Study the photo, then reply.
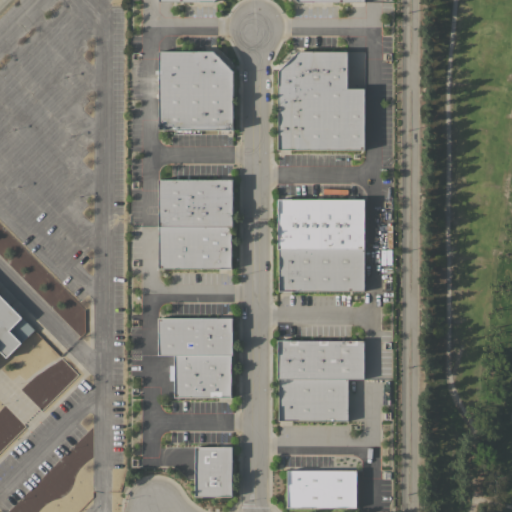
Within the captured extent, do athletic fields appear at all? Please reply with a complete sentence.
No, no athletic field is visible in the view.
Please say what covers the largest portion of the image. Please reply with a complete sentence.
Most of the picture is covered by paved ground.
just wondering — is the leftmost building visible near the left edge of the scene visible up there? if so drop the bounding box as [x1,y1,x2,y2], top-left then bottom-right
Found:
[0,295,34,359]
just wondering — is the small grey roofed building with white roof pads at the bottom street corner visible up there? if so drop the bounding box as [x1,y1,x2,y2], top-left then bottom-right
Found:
[195,447,232,497]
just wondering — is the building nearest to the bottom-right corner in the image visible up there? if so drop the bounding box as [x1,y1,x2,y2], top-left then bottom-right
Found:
[287,470,358,508]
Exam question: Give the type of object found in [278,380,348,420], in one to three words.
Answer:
building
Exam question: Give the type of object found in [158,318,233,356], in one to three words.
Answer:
building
